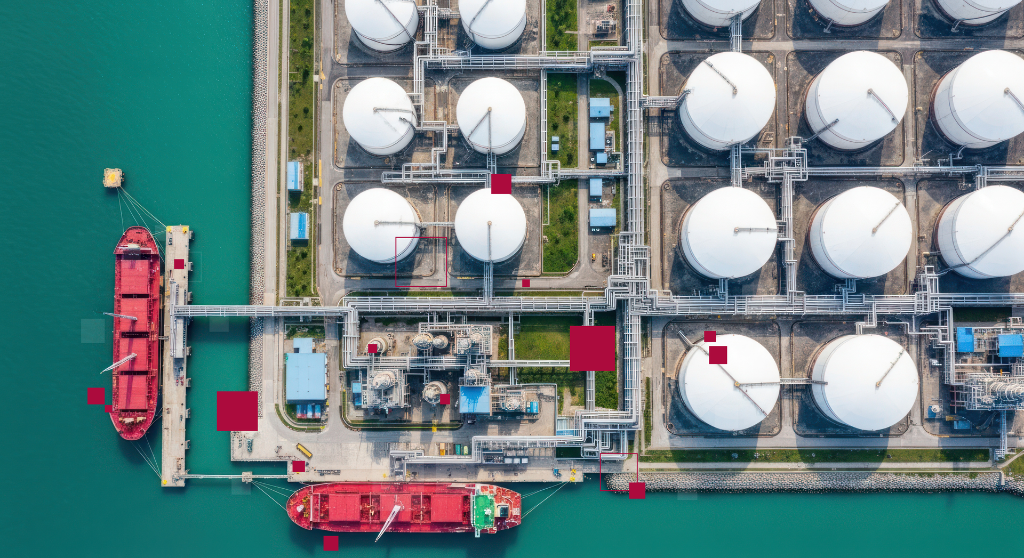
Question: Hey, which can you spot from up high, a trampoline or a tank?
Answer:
tank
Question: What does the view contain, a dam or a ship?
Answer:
ship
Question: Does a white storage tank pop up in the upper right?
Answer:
Yes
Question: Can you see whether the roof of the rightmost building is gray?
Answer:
No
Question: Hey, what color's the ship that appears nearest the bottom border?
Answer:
red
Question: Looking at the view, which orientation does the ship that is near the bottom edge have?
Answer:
from side to side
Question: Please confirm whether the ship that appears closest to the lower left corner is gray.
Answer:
No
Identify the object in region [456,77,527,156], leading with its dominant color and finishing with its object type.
white storage tank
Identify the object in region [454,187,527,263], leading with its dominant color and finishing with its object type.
white storage tank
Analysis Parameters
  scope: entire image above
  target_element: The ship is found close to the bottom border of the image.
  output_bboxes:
[286,481,521,542]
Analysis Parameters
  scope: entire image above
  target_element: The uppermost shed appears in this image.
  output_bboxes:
[590,98,609,118]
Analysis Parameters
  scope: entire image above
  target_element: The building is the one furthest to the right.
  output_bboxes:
[992,335,1023,357]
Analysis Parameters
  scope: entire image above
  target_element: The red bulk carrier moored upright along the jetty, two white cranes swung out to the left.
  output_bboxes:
[101,226,166,441]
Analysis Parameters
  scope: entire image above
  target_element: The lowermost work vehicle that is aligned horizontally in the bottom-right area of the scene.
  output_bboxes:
[946,413,996,429]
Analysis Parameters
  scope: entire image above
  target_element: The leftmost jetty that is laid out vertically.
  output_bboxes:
[161,225,191,486]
